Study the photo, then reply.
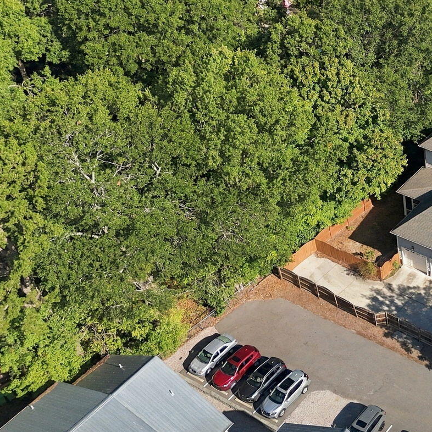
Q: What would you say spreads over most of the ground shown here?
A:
trees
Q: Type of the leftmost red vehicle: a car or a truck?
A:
car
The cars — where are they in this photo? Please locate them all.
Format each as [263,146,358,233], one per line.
[191,325,243,373]
[239,350,290,401]
[263,365,314,418]
[215,336,266,387]
[344,397,391,432]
